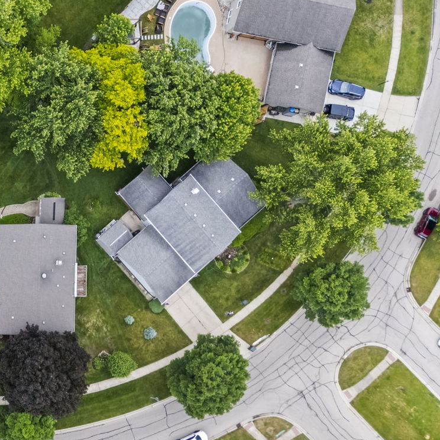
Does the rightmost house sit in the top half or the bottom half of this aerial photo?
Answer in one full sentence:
The rightmost house is in the top half of the image.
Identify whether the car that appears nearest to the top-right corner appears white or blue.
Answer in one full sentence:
The color of the car that appears nearest to the top-right corner is blue.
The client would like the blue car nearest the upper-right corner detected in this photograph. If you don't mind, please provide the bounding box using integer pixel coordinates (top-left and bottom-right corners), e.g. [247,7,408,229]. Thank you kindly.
[328,79,367,101]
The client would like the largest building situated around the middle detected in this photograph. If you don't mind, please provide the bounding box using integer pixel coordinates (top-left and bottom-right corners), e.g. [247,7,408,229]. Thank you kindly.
[113,150,265,305]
